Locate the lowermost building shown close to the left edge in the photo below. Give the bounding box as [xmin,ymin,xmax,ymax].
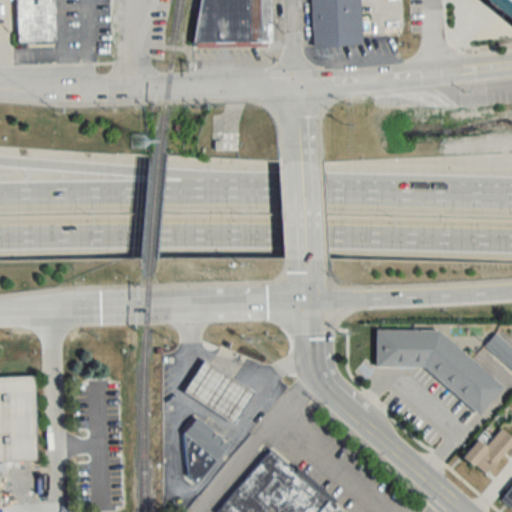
[0,376,40,462]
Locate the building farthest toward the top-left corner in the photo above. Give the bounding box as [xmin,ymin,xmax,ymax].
[18,0,59,48]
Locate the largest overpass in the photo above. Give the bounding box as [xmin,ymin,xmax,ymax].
[279,156,329,262]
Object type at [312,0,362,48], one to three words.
building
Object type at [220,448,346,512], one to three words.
building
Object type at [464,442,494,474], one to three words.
house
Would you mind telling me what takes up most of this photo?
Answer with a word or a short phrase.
paved ground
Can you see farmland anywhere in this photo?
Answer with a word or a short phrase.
No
